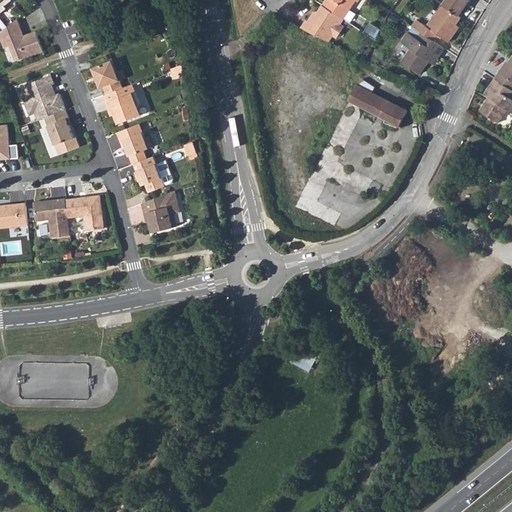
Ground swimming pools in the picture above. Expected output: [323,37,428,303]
[0,240,22,256]
[166,148,186,162]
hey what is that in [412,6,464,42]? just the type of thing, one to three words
house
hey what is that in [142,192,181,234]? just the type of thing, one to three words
house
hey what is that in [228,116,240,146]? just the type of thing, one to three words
vehicle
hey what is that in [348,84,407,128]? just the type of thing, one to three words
building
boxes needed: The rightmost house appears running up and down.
[478,54,512,128]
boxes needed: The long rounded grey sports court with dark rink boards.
[0,354,118,408]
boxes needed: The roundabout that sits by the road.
[228,246,284,303]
